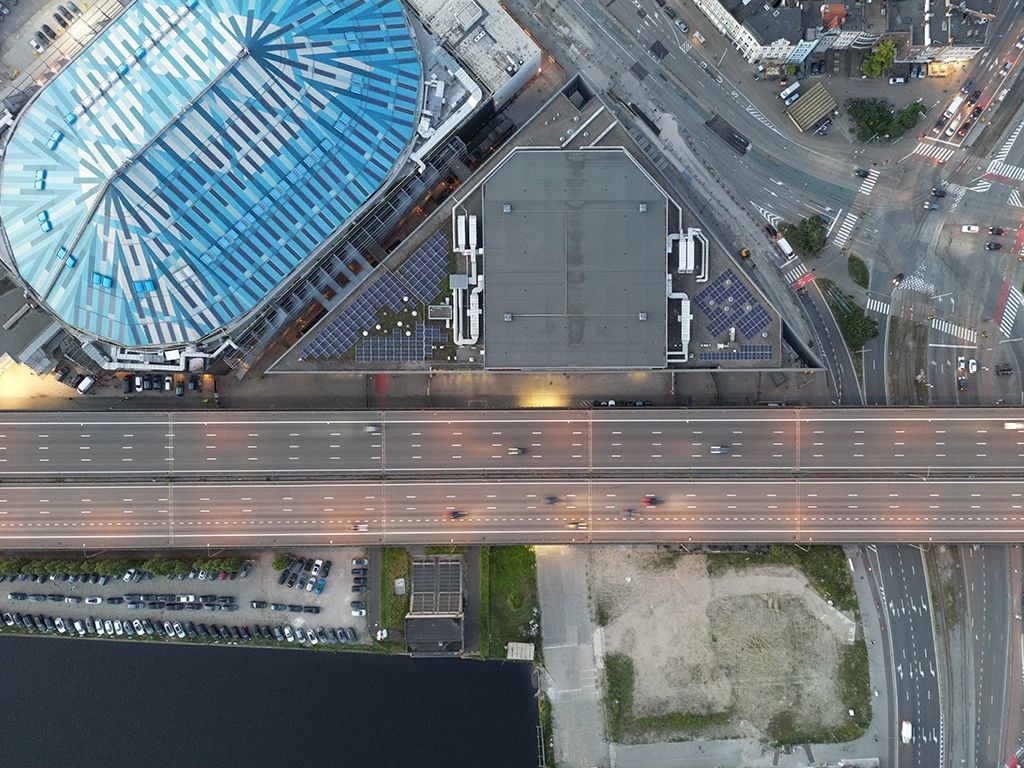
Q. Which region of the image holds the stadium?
top left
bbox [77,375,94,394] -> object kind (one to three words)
vehicle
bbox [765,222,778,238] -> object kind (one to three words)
vehicle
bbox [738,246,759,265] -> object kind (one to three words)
work vehicle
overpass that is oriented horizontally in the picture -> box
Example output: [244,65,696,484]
[0,408,1024,548]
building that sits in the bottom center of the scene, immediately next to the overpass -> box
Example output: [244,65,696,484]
[405,551,465,658]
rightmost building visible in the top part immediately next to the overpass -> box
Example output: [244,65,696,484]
[264,74,827,374]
